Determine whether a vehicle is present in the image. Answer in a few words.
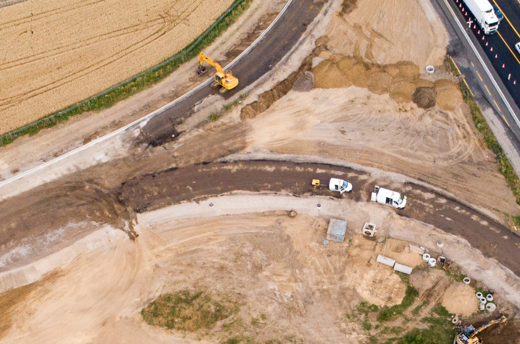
Yes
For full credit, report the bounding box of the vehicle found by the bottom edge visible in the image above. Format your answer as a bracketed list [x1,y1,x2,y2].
[452,313,509,344]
